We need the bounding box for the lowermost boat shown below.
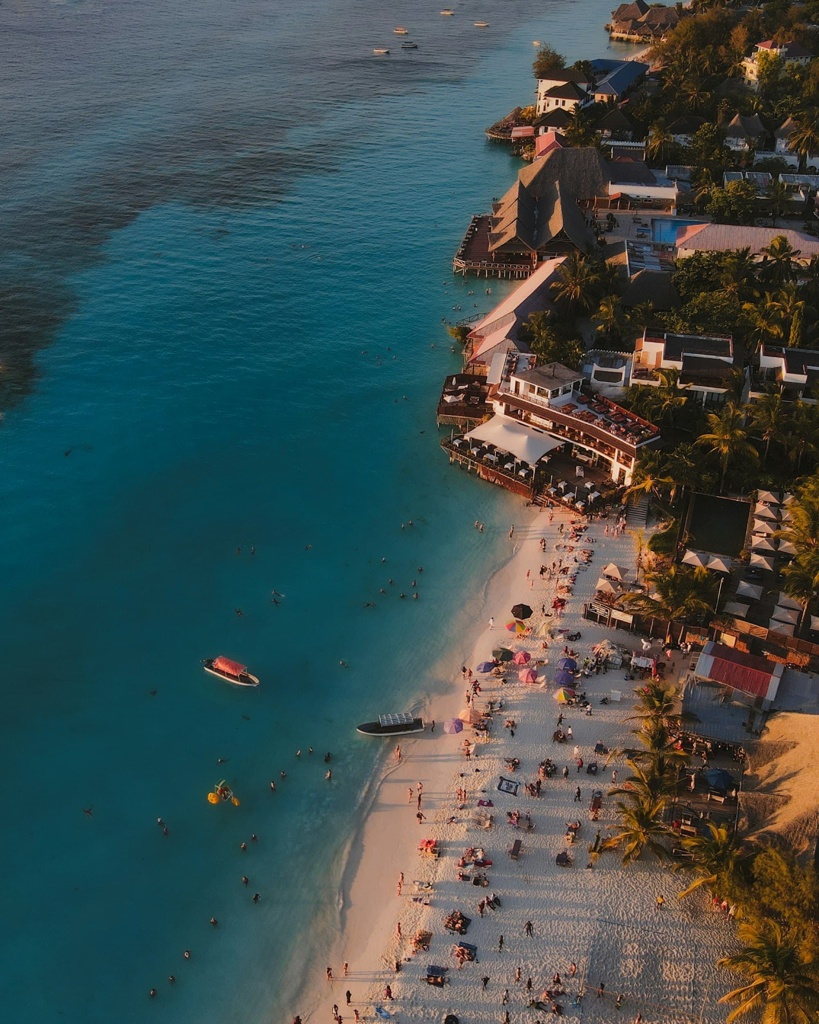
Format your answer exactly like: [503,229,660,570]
[358,710,423,730]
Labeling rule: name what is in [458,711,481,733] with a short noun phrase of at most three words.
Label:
umbrella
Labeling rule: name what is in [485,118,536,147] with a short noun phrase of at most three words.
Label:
pier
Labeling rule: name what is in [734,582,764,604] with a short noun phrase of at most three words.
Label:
umbrella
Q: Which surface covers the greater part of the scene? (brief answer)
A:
water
